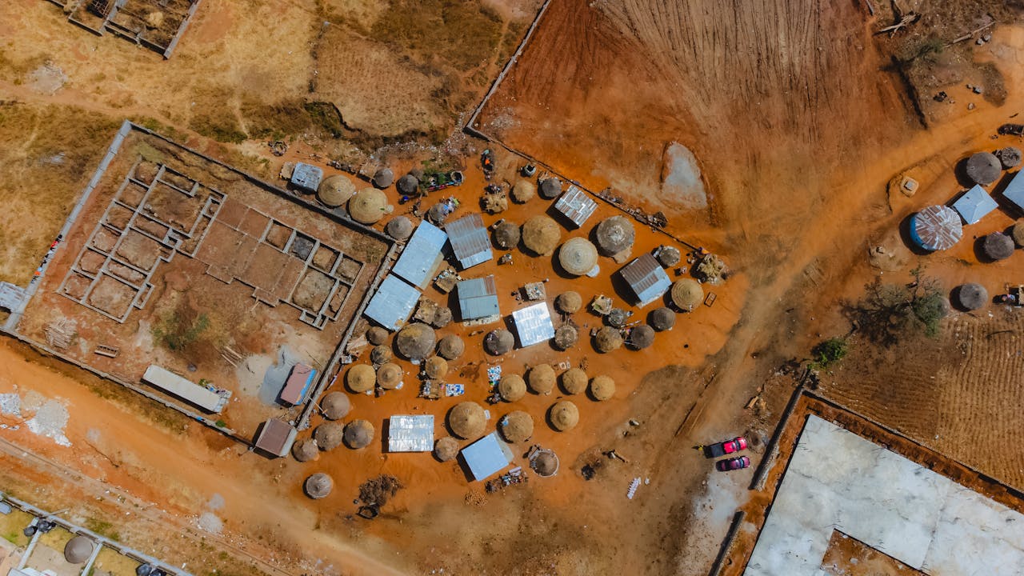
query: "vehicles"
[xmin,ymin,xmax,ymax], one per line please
[703,437,745,458]
[715,455,749,470]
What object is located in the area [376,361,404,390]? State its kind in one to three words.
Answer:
shed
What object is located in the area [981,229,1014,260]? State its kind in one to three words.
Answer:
shed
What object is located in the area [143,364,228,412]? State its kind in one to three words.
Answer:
building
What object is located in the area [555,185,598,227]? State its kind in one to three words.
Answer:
house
